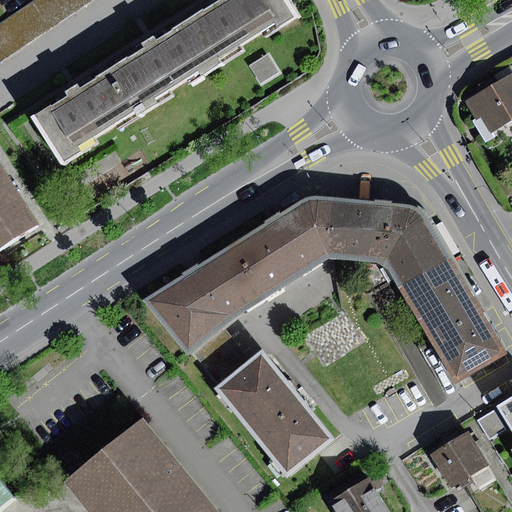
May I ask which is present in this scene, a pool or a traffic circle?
traffic circle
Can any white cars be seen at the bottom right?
Yes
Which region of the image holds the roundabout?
top right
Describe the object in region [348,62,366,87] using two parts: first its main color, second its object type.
white vehicle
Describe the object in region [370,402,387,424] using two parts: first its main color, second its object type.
white car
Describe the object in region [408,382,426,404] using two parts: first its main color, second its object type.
white vehicle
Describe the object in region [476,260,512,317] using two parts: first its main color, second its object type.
white bus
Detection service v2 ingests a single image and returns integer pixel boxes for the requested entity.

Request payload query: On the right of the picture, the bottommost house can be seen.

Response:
[332,478,390,512]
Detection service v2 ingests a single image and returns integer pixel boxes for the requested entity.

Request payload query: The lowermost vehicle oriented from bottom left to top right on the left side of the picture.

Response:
[146,360,168,378]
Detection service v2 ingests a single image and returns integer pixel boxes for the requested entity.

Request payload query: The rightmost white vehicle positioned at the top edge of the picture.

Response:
[445,20,468,38]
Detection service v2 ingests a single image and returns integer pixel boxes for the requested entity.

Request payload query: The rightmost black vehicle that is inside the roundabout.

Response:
[418,64,433,89]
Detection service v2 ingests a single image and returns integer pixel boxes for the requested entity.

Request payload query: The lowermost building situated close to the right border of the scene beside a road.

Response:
[430,431,496,492]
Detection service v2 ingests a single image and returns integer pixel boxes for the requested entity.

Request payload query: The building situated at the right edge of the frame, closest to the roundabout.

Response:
[466,71,512,142]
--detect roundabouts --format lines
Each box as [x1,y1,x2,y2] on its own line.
[323,18,454,154]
